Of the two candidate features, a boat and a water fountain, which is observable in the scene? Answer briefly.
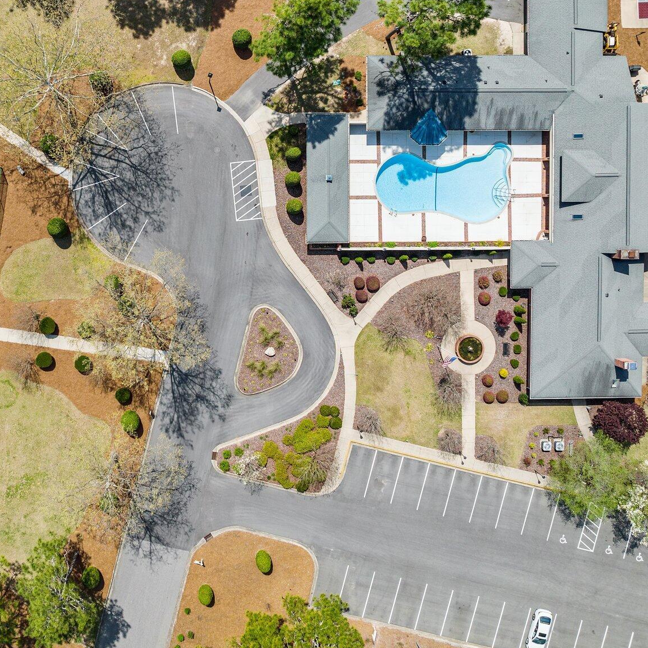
water fountain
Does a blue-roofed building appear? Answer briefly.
No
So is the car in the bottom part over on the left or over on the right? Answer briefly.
right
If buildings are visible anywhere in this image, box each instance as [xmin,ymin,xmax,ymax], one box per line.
[365,0,648,399]
[305,113,349,244]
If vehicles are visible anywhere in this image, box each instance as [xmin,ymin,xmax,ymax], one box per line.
[601,20,620,55]
[526,608,550,648]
